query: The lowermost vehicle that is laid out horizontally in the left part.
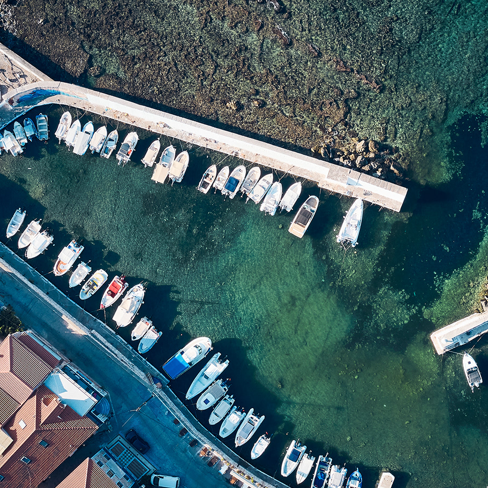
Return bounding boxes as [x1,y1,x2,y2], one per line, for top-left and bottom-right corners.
[150,473,182,488]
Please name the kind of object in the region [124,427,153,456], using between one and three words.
car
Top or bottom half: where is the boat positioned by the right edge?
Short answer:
bottom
